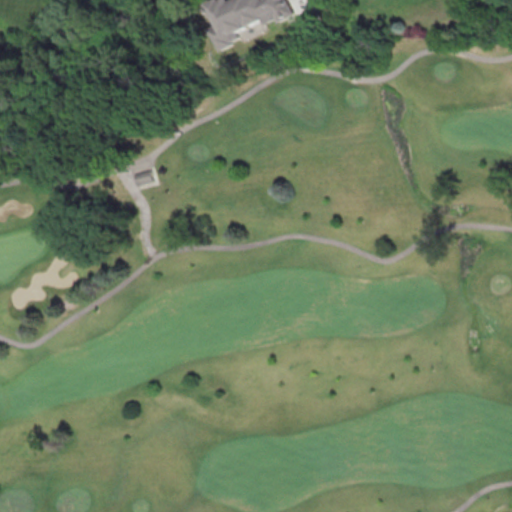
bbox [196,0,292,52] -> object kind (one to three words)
building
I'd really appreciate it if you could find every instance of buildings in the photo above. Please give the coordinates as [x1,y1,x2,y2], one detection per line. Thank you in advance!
[133,169,154,186]
[196,0,292,52]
